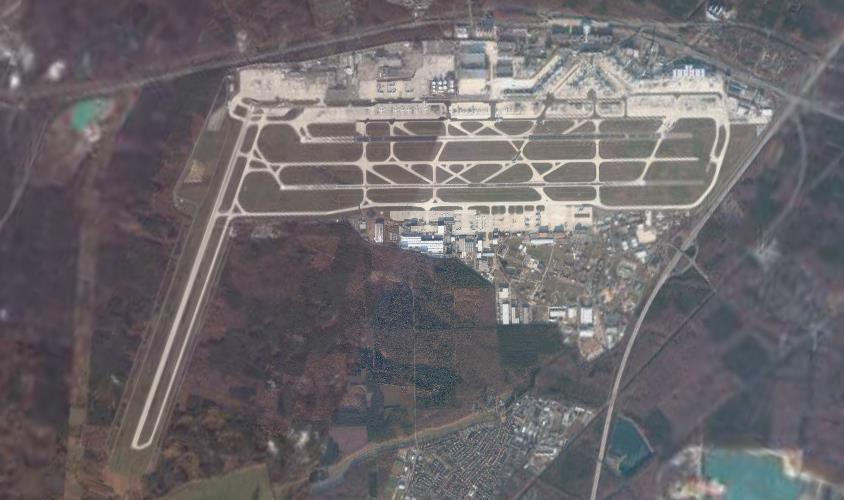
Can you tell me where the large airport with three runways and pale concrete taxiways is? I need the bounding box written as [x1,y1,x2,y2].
[109,42,769,472]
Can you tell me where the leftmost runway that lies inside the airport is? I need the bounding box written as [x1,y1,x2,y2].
[132,110,253,447]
